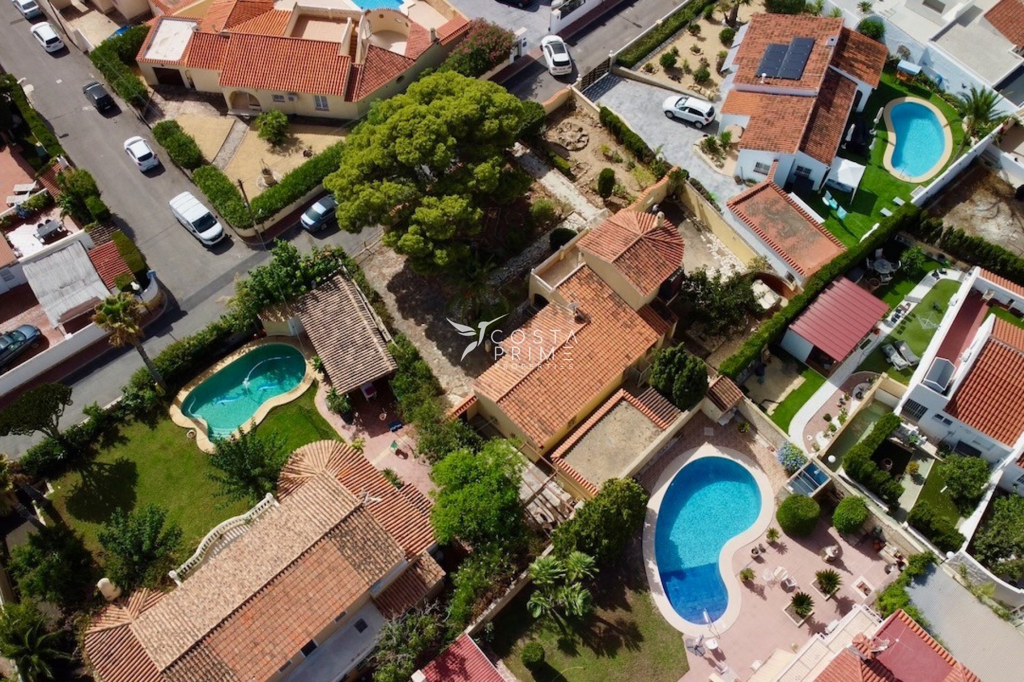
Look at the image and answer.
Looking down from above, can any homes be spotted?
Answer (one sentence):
Yes, a home appears in the view.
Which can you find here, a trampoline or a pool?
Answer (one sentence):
This aerial view contains a pool.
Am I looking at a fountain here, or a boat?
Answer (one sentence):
It is a fountain that can be seen here.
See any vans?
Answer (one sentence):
Yes, there's a van down there.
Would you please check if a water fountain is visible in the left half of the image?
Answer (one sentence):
Yes, you'll find a water fountain in the left half of the image.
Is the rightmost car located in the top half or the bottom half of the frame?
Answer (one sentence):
You can find the rightmost car in the top half.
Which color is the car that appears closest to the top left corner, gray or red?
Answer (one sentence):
In this view, the car that appears closest to the top left corner is gray.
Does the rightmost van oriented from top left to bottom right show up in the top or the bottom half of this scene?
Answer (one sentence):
Seen from above, the rightmost van oriented from top left to bottom right lies in the top half of the view.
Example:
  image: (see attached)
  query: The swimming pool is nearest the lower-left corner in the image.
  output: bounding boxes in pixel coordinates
[172,336,316,452]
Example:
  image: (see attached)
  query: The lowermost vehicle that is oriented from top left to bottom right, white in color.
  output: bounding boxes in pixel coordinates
[164,181,224,247]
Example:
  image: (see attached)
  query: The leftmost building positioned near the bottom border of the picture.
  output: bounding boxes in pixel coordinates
[83,438,446,682]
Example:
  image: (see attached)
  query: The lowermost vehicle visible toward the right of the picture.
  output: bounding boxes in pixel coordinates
[655,91,723,131]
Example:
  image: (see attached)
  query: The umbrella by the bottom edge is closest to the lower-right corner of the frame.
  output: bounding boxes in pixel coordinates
[685,632,709,658]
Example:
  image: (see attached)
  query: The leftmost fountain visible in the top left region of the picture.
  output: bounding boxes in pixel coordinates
[251,164,286,193]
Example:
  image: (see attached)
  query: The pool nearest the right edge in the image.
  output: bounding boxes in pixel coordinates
[884,97,953,182]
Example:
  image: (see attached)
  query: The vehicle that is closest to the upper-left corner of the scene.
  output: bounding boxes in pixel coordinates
[4,0,45,27]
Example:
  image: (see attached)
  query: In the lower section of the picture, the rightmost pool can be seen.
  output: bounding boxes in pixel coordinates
[641,444,776,639]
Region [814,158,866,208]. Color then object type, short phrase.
white gazebo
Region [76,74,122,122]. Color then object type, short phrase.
gray car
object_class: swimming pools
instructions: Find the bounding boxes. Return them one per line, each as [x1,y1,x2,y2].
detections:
[172,336,316,452]
[346,0,410,12]
[884,97,953,182]
[641,444,776,639]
